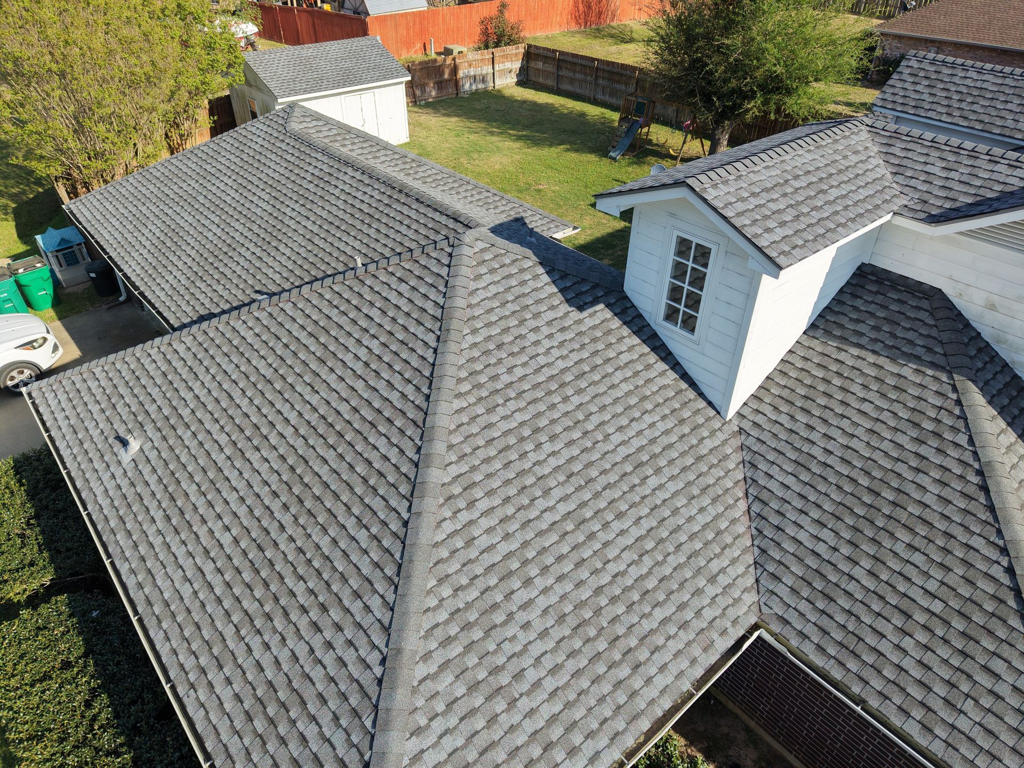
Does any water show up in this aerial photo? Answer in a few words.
No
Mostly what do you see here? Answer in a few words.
buildings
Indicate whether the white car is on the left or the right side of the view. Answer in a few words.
left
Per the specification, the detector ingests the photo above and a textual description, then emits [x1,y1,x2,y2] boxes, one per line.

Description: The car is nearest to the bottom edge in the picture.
[0,316,61,396]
